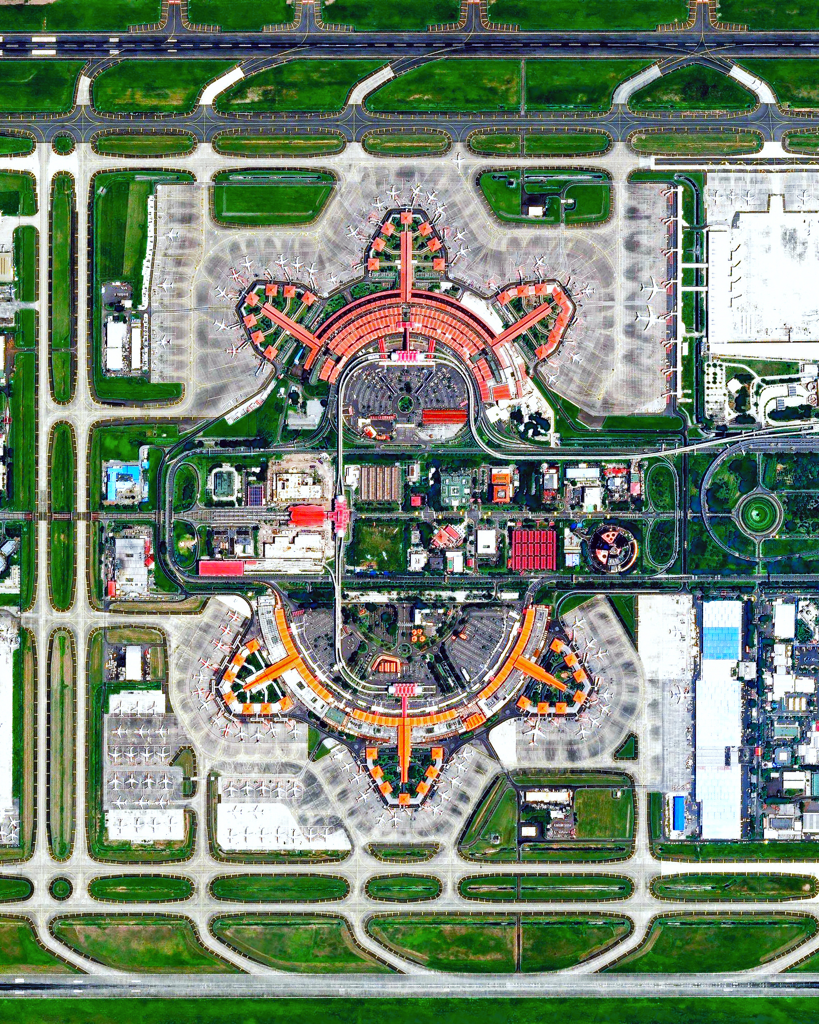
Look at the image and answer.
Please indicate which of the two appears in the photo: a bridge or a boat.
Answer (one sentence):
The image shows a bridge.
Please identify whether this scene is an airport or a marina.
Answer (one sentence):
What you see here is an airport.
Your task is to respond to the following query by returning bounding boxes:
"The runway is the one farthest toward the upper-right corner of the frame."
[0,30,819,60]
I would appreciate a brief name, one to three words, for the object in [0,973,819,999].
runway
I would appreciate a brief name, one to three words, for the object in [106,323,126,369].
building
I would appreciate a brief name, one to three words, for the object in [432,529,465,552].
building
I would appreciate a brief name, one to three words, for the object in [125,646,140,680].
hangar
